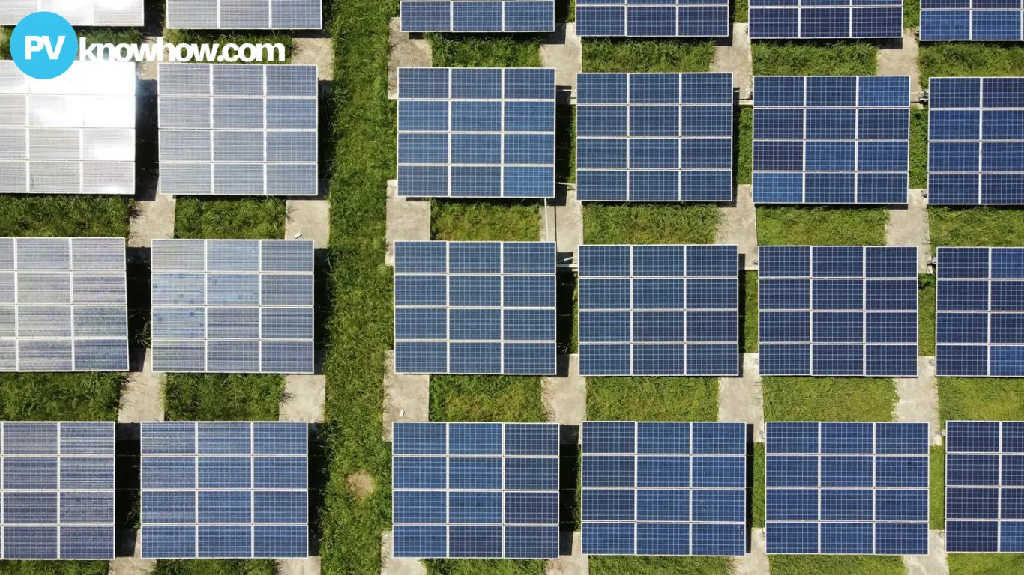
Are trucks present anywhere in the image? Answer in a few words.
No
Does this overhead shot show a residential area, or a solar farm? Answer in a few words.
solar farm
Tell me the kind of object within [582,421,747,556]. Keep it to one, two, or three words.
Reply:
solar array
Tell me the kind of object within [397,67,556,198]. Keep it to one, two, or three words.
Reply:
solar array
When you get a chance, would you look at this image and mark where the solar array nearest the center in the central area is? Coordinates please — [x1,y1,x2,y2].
[394,242,557,374]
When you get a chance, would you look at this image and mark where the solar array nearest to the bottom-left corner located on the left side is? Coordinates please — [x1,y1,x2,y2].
[0,422,128,559]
